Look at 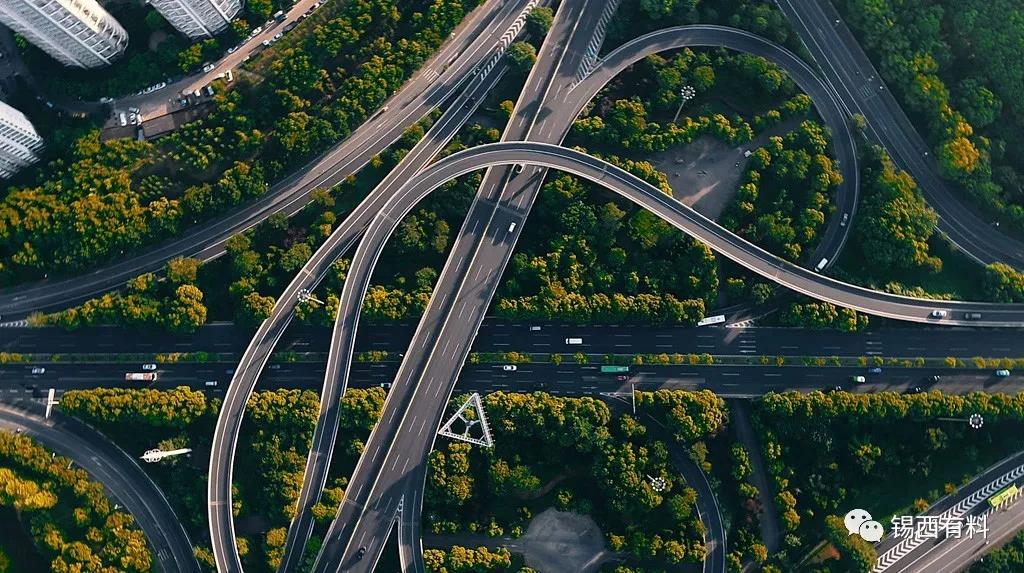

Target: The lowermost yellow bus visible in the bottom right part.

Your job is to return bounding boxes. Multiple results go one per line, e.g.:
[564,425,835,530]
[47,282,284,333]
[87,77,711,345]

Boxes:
[989,486,1022,507]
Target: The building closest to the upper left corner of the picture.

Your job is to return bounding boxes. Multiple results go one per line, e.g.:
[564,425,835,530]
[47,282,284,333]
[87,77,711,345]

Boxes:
[0,0,129,72]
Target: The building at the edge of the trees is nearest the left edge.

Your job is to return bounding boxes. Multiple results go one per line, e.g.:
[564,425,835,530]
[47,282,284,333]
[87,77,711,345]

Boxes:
[0,102,46,184]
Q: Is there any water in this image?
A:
No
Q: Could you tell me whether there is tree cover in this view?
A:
Yes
